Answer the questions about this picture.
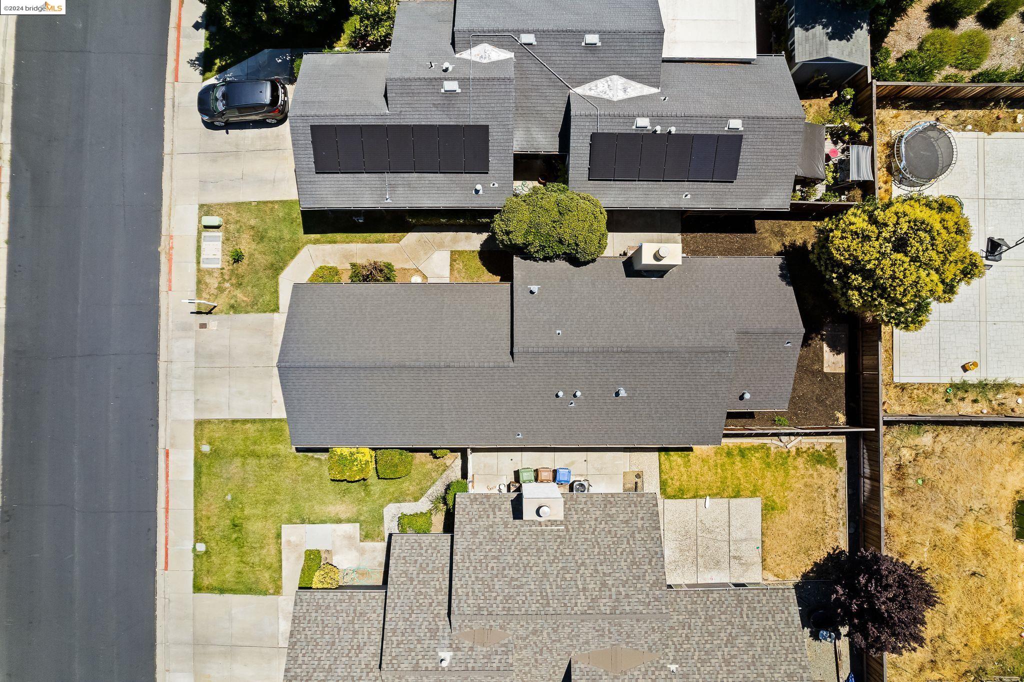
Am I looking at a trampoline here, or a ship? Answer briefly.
trampoline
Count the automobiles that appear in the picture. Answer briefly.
1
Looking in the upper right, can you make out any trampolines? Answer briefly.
Yes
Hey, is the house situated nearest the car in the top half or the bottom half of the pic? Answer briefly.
top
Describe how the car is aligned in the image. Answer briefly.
from left to right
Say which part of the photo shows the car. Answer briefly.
top left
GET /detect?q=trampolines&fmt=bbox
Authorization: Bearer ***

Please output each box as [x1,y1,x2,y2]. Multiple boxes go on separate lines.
[888,120,958,185]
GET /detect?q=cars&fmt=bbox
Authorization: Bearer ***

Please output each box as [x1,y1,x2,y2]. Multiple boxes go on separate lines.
[197,77,292,127]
